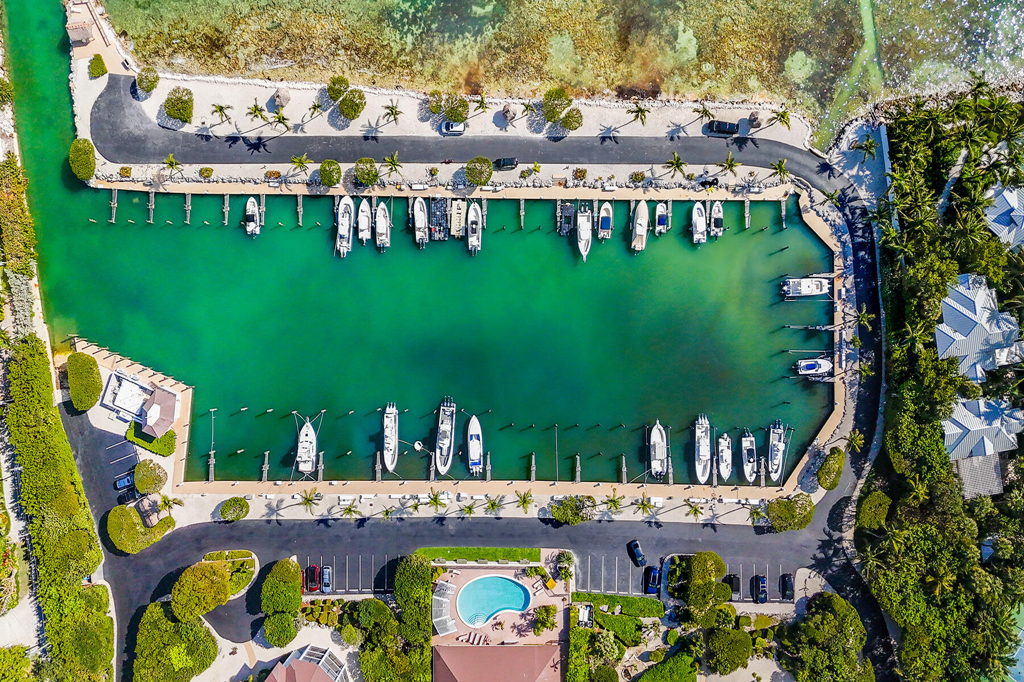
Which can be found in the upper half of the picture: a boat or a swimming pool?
boat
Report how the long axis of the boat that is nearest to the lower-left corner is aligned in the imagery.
from top to bottom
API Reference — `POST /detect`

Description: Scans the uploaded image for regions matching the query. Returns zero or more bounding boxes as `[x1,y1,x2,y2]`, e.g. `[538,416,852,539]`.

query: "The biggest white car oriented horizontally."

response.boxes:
[441,123,466,135]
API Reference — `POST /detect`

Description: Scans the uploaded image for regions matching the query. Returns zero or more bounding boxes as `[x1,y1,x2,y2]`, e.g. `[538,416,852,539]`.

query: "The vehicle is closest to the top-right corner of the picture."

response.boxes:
[707,120,738,134]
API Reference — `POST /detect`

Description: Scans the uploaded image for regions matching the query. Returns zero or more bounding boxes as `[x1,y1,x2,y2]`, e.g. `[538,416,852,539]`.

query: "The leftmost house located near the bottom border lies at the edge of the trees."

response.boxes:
[267,640,350,682]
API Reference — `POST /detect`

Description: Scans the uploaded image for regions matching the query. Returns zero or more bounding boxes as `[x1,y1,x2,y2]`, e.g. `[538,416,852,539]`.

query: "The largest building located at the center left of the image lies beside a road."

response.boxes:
[99,371,189,438]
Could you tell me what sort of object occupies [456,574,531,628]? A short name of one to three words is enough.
swimming pool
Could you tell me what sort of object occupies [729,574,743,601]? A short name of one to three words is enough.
vehicle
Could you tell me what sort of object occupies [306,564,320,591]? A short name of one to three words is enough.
car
